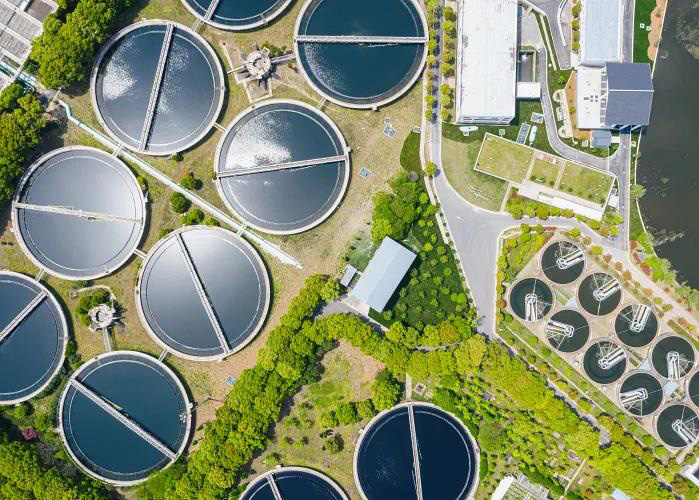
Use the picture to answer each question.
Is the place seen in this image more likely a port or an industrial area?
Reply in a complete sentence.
This looks like an industrial area.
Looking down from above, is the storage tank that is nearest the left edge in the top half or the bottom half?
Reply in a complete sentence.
The storage tank that is nearest the left edge sits in the bottom half of the picture.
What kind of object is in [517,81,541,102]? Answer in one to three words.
shed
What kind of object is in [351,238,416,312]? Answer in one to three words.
building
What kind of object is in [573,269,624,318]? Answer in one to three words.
storage tank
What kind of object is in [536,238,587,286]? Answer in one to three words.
storage tank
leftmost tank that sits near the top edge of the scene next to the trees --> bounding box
[90,20,225,155]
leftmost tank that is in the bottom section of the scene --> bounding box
[0,270,70,405]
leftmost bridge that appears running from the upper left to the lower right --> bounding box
[70,376,177,462]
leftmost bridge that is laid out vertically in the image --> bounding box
[139,20,173,152]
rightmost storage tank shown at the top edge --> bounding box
[294,0,427,111]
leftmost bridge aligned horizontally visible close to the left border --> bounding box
[12,202,142,223]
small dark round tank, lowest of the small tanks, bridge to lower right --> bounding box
[652,399,699,450]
